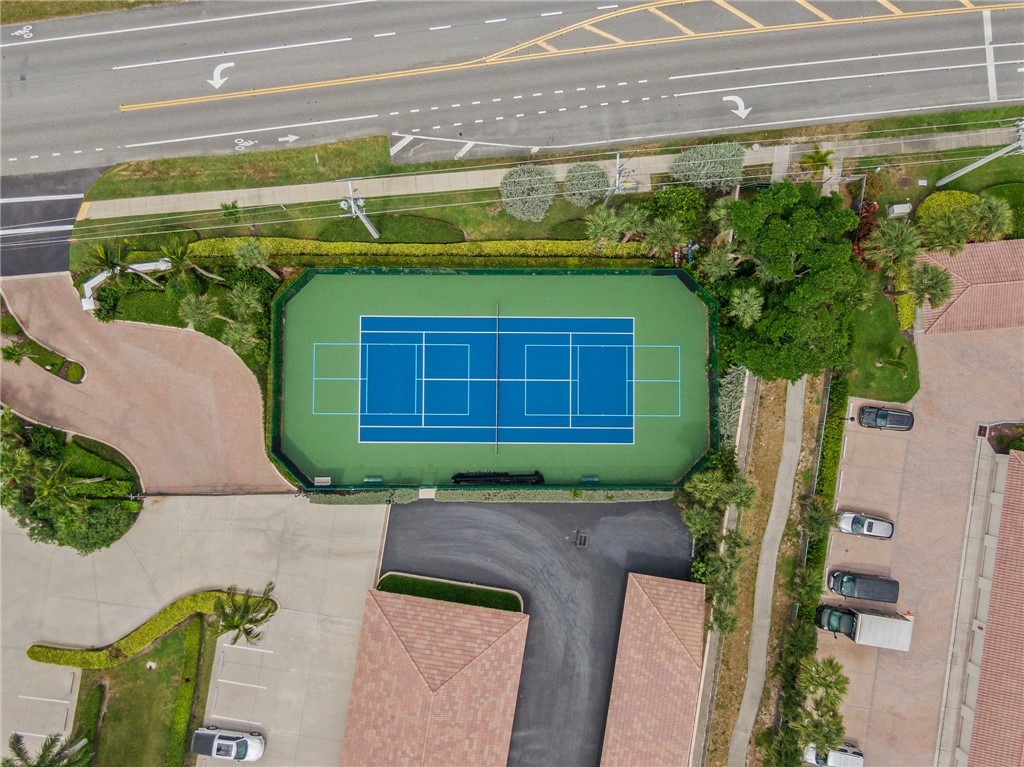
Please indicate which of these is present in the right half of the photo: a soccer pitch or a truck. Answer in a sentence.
The feature located in the right half of the photo is a truck.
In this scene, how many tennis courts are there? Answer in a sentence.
I count 1 tennis court.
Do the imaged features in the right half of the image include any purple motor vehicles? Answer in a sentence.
No, in the right half of the image there is no purple motor vehicle.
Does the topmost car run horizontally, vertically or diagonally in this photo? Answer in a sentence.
The topmost car is oriented horizontally.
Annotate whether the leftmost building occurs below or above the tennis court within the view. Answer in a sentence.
As seen from overhead, the leftmost building falls below the tennis court in the picture.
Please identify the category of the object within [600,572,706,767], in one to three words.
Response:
building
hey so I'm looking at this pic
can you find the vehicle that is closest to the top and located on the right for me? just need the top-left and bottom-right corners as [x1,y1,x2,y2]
[856,404,914,432]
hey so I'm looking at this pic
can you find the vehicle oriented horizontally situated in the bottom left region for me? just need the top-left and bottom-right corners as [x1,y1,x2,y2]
[190,726,266,765]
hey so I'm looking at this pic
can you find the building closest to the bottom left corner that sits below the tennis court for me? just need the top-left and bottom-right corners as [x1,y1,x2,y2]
[339,589,530,767]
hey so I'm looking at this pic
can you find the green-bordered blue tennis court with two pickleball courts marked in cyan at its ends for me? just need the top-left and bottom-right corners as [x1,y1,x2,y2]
[283,275,709,486]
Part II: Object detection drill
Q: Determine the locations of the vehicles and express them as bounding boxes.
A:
[856,404,914,432]
[804,741,870,767]
[826,569,900,604]
[815,602,913,650]
[190,726,266,765]
[836,512,894,539]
